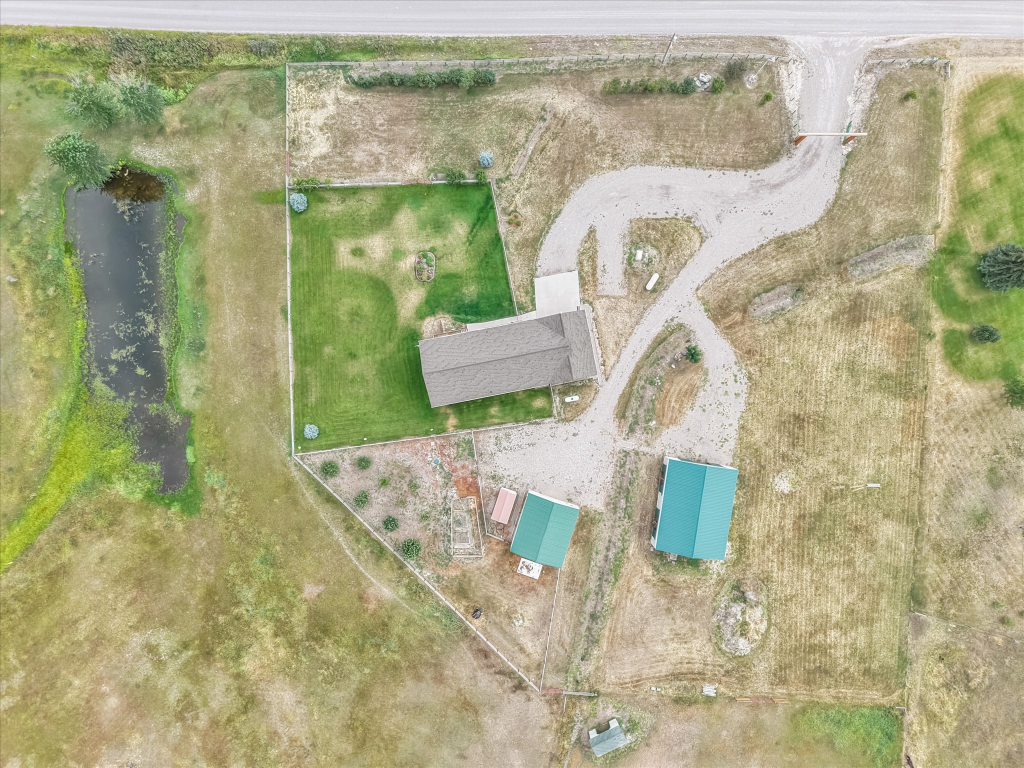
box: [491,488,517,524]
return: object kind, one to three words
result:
shed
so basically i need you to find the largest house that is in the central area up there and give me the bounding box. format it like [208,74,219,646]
[414,306,598,408]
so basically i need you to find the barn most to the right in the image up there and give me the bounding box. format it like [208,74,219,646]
[651,457,739,560]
